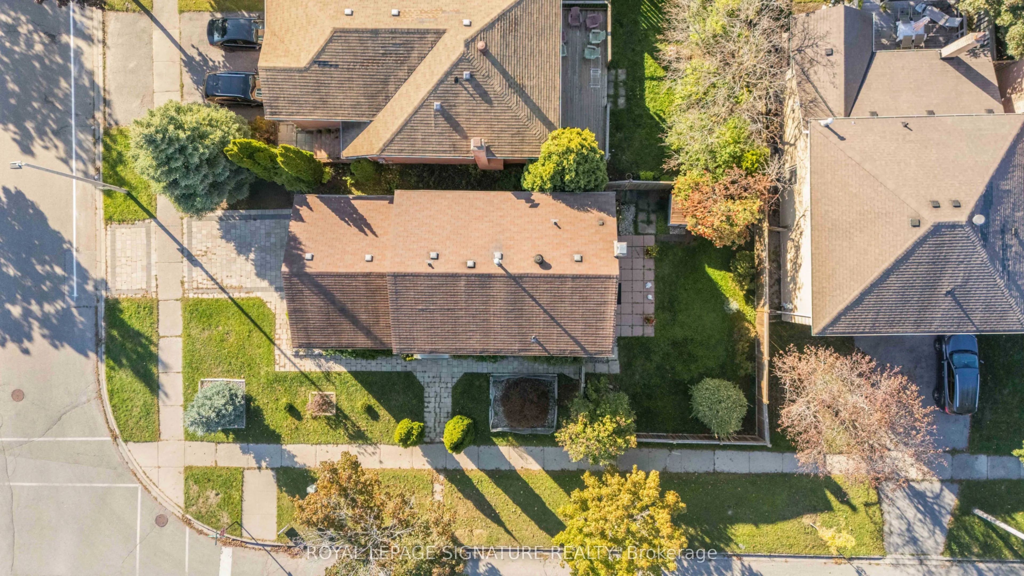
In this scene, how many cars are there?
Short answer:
3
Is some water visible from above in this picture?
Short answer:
No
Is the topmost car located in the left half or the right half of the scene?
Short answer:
left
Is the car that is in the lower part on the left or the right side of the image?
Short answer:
right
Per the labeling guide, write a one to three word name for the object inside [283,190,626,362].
house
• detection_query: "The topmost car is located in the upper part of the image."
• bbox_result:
[208,13,265,55]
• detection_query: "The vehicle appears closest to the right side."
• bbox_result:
[931,333,982,415]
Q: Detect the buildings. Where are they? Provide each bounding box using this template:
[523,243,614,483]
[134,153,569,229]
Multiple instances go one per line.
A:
[781,5,1024,336]
[662,196,683,229]
[258,0,562,171]
[283,190,626,362]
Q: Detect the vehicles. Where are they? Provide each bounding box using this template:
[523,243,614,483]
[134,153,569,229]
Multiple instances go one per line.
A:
[931,333,982,415]
[208,13,265,55]
[204,68,264,110]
